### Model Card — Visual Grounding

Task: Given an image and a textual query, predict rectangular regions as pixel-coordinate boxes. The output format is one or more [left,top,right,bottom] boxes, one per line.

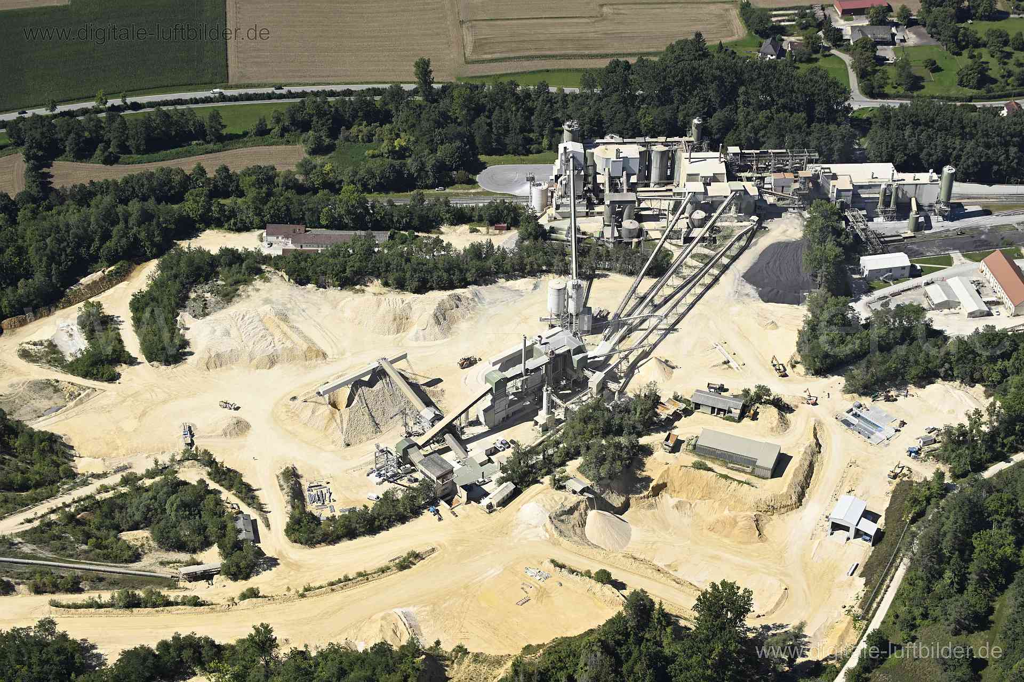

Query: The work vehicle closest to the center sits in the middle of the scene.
[457,354,481,368]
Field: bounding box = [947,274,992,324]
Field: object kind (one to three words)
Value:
building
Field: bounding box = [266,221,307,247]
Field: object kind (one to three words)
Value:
house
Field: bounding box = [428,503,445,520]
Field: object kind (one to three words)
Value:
vehicle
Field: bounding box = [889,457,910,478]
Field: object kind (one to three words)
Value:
work vehicle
